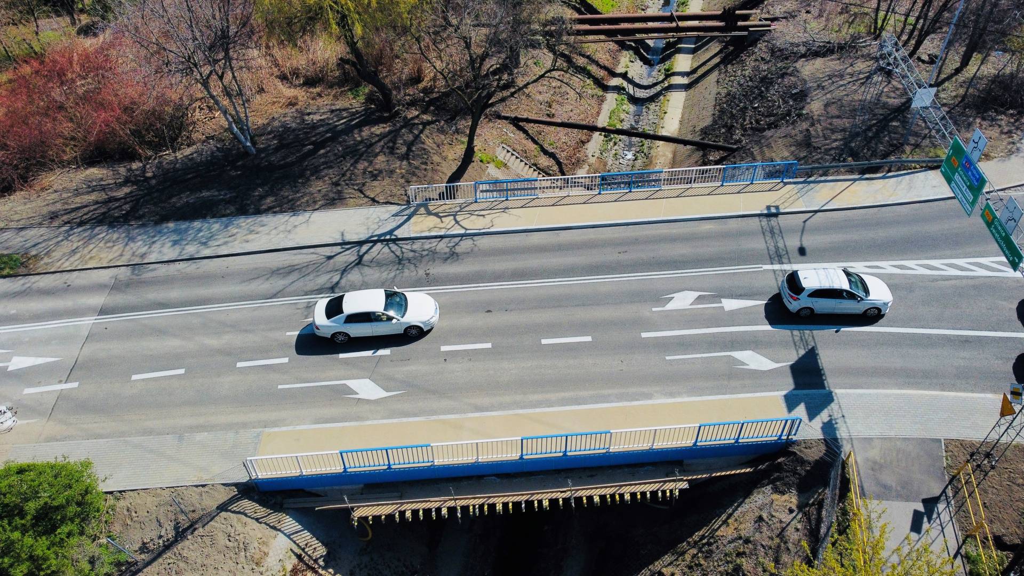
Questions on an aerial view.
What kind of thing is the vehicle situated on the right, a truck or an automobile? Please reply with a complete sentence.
I'd say the vehicle situated on the right is an automobile.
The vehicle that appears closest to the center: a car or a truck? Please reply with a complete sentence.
I'd say the vehicle that appears closest to the center is a car.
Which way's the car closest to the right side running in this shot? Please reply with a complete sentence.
The car closest to the right side is laid out from side to side.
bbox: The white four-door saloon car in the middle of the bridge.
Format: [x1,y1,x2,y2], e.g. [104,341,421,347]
[313,284,438,342]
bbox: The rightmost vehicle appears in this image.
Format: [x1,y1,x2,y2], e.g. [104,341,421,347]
[783,264,893,316]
